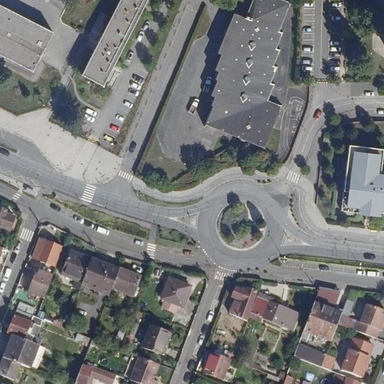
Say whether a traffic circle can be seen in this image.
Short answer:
Yes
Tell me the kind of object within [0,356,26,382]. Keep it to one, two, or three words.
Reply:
house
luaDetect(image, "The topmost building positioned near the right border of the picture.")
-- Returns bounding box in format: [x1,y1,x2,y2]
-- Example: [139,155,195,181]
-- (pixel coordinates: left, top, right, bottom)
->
[342,144,384,216]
